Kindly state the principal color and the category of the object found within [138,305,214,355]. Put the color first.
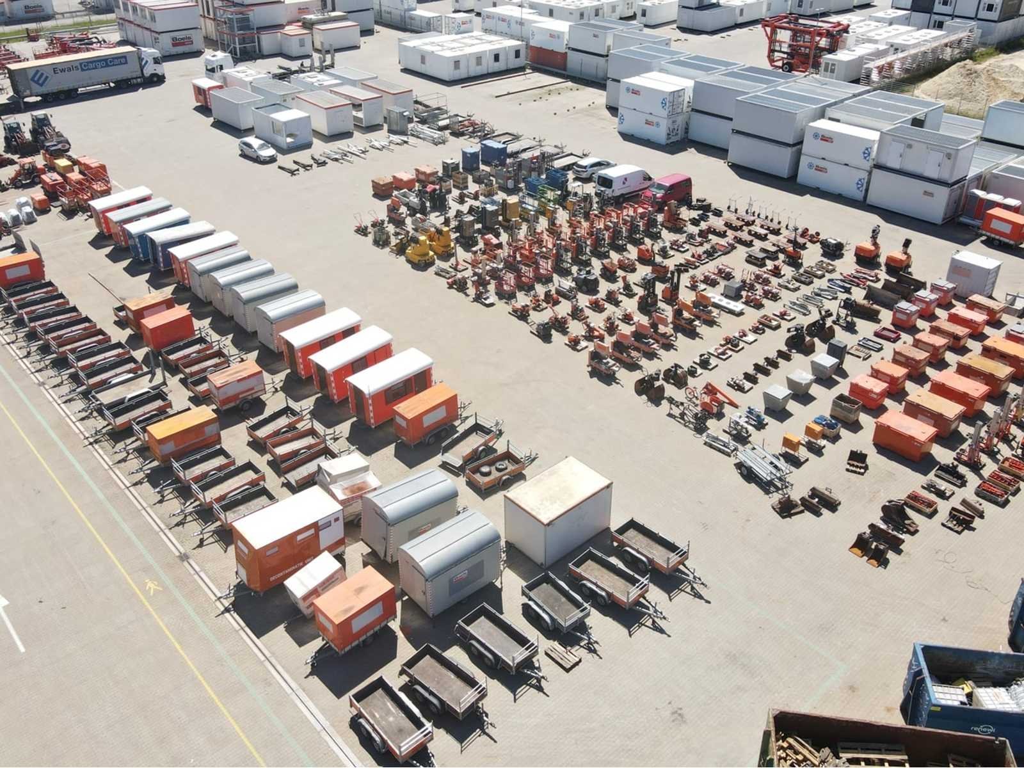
red trailer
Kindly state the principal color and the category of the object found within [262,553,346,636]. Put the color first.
white trailer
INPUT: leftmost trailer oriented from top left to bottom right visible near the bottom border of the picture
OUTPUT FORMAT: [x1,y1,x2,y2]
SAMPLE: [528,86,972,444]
[348,677,445,768]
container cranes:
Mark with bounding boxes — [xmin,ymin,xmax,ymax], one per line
[767,13,855,74]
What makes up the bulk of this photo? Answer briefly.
paved ground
